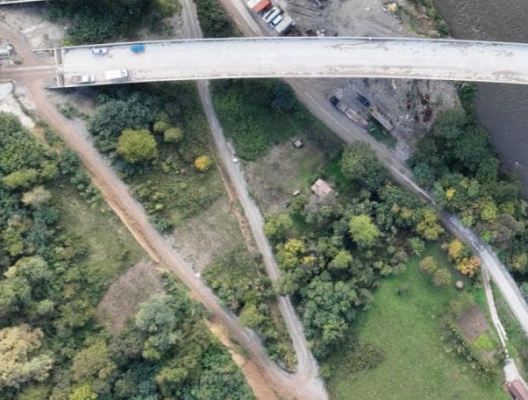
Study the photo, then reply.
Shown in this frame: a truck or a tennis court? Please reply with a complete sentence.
Of the two, only a truck appears.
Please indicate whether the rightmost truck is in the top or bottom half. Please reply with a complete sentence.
The rightmost truck sits in the top half of the picture.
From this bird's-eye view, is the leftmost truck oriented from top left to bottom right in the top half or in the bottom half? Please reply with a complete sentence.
It is in the top half that the leftmost truck oriented from top left to bottom right appears.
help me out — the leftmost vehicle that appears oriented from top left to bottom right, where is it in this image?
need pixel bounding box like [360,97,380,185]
[326,94,370,131]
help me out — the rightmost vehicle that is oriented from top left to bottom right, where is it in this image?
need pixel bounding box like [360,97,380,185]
[353,93,394,135]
